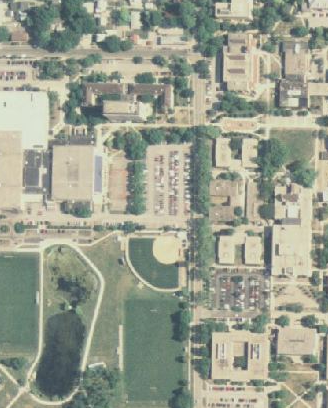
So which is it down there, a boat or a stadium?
stadium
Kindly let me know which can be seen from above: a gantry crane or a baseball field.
baseball field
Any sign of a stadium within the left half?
Yes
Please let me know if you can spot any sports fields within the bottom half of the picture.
Yes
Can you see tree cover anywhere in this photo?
Yes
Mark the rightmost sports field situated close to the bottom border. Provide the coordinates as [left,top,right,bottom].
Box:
[124,296,184,402]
